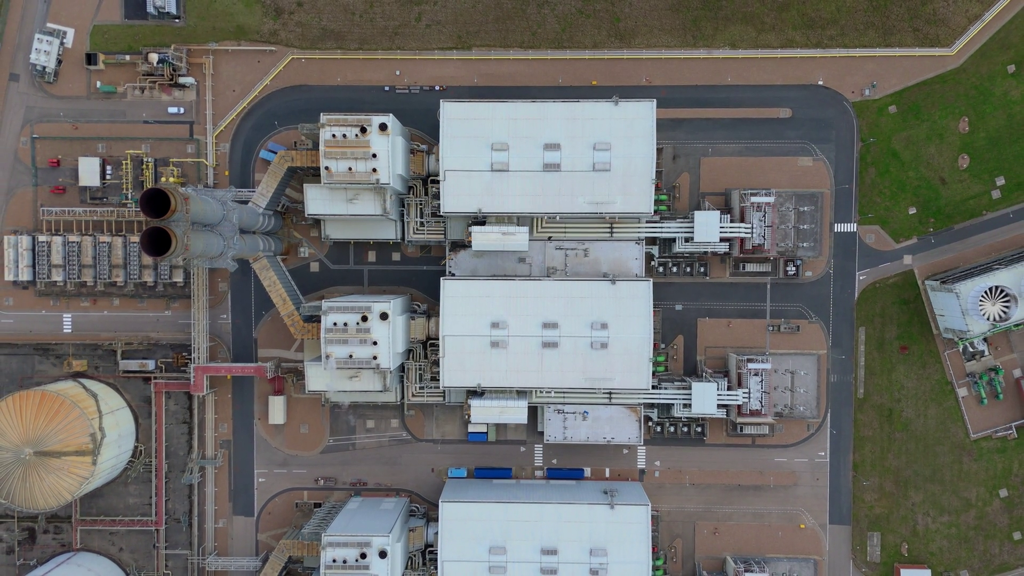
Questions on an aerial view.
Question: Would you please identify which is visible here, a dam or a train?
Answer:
train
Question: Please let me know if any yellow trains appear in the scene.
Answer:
Yes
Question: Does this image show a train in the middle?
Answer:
No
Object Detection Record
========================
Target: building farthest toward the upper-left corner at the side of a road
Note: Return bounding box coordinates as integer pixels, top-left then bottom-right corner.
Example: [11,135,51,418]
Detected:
[32,27,70,80]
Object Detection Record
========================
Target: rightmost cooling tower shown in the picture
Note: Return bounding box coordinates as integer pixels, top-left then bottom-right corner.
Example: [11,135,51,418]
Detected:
[921,240,1024,339]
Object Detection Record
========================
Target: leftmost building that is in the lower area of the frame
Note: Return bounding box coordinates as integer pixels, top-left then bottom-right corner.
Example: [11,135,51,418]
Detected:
[269,395,286,424]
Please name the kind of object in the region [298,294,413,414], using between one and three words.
building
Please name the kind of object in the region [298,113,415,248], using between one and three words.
building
